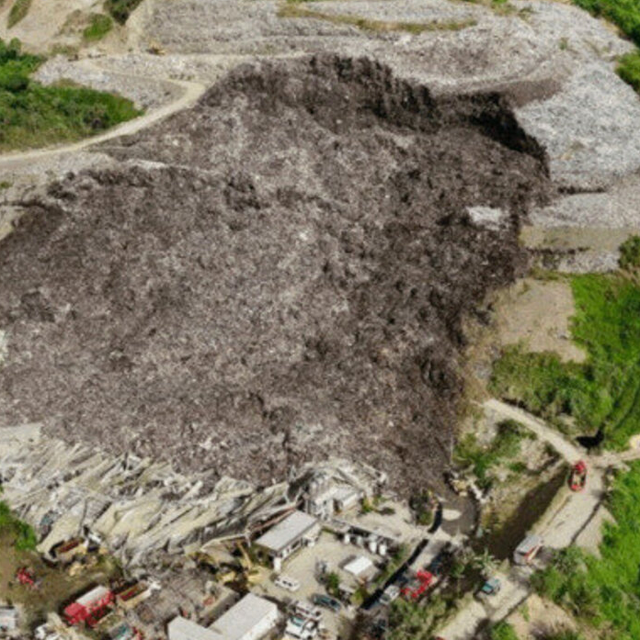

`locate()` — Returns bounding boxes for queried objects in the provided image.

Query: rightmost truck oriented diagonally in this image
[510,521,554,568]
